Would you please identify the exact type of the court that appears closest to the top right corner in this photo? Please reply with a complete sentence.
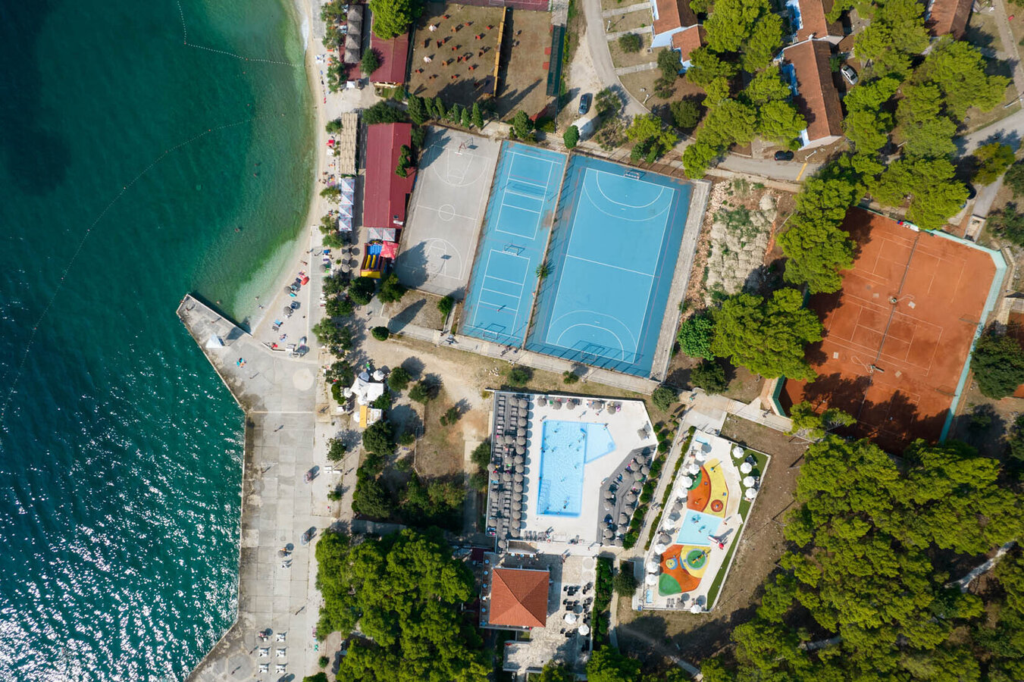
It looks like the court that appears closest to the top right corner is a tennis court.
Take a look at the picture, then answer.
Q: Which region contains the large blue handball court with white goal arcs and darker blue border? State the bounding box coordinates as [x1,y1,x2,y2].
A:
[525,154,694,378]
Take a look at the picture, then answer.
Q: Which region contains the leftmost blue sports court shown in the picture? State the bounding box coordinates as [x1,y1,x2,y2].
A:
[457,140,568,348]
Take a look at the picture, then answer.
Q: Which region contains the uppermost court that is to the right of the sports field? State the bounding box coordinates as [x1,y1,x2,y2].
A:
[848,218,976,311]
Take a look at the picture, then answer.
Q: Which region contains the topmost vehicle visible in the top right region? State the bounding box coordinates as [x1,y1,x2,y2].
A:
[842,64,857,85]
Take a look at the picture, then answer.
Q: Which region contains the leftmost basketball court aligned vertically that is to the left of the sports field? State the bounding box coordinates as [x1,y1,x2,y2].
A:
[394,125,501,298]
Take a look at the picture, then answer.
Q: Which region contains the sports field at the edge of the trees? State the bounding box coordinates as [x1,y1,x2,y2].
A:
[539,161,683,369]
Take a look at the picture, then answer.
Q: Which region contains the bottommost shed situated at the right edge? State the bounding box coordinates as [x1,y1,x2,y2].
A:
[963,214,986,242]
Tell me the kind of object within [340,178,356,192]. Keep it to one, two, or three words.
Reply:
umbrella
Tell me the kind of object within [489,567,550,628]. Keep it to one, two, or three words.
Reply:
building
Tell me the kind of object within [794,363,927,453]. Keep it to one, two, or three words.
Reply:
tennis court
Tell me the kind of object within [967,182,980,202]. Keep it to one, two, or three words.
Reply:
vehicle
